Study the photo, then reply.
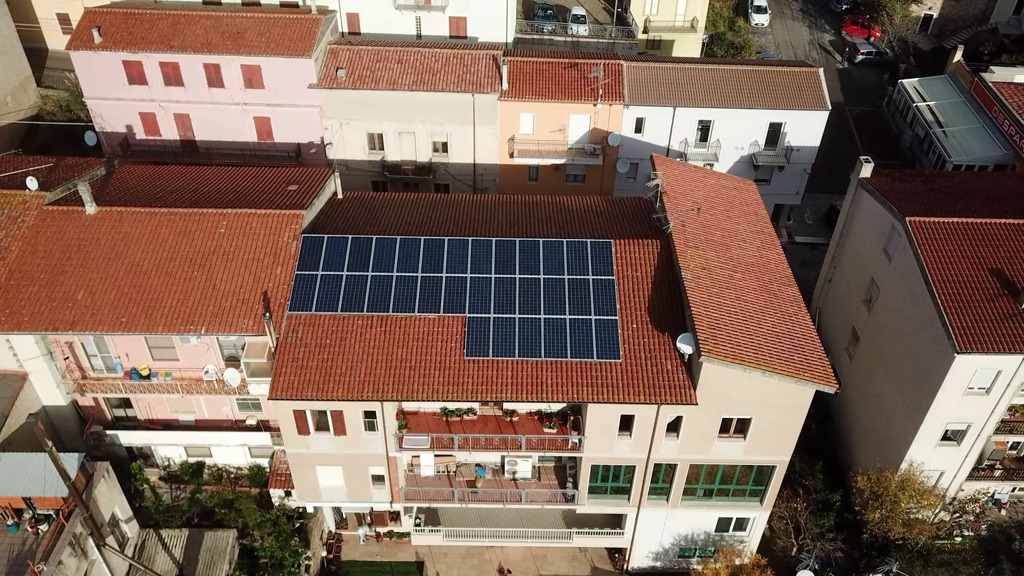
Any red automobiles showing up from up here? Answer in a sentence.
Yes, there is a red automobile in the image.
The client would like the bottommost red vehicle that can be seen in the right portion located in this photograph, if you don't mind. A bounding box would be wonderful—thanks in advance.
[842,16,881,39]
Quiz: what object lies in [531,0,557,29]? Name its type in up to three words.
car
